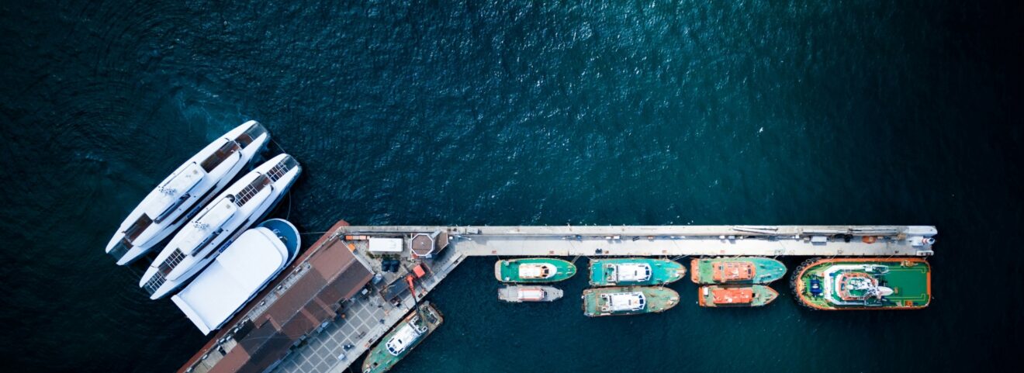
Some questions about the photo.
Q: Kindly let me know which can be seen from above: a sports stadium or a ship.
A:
ship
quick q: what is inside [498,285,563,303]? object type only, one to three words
boat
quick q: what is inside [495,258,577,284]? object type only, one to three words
boat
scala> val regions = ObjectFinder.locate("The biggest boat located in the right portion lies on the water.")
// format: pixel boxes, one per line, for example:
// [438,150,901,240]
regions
[789,253,931,313]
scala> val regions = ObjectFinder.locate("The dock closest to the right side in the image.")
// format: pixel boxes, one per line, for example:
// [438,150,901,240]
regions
[340,225,937,258]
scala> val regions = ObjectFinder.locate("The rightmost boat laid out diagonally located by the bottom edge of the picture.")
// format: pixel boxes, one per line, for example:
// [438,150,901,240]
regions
[361,302,442,373]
